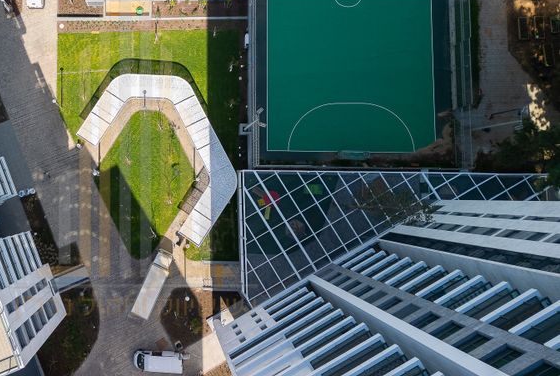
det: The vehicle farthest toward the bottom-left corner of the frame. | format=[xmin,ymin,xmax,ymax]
[134,349,187,376]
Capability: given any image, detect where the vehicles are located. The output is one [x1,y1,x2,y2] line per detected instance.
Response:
[24,0,42,6]
[134,349,187,376]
